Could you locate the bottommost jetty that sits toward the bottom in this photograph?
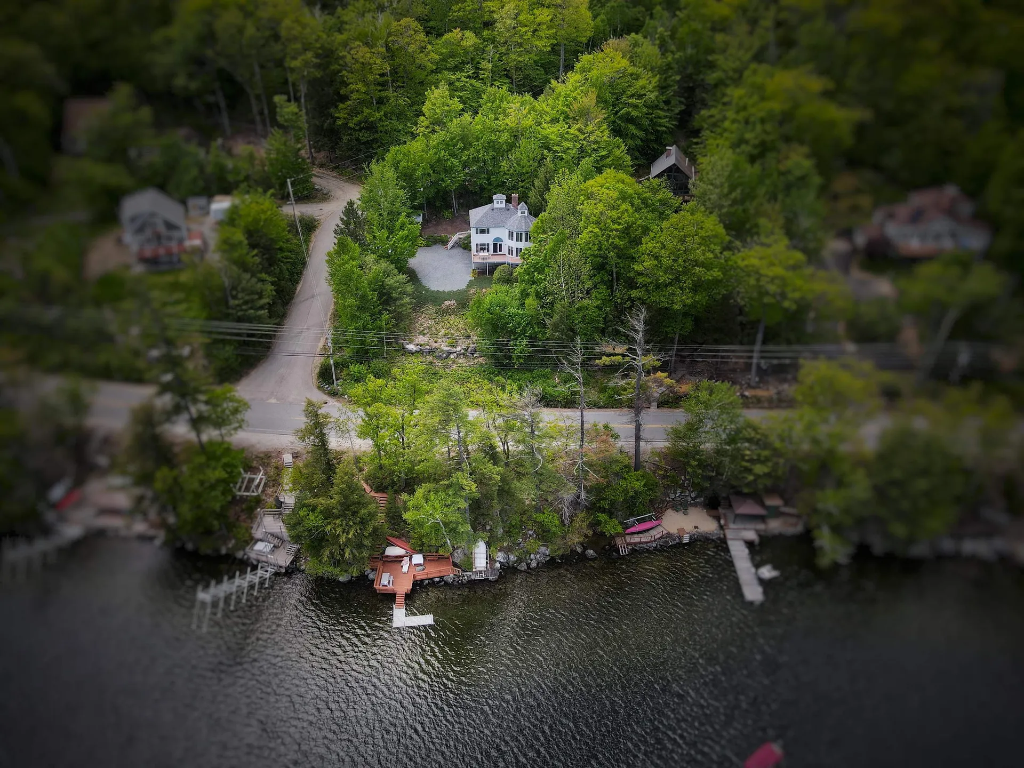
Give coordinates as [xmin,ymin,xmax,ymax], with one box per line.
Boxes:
[393,603,434,628]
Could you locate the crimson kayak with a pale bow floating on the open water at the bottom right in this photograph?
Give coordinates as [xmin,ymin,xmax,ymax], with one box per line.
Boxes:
[740,744,781,768]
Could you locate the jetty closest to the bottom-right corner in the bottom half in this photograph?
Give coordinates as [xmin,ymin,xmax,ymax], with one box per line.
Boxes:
[727,538,762,604]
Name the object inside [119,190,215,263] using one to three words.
house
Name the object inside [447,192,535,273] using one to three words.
house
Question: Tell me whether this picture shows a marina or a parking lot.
marina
